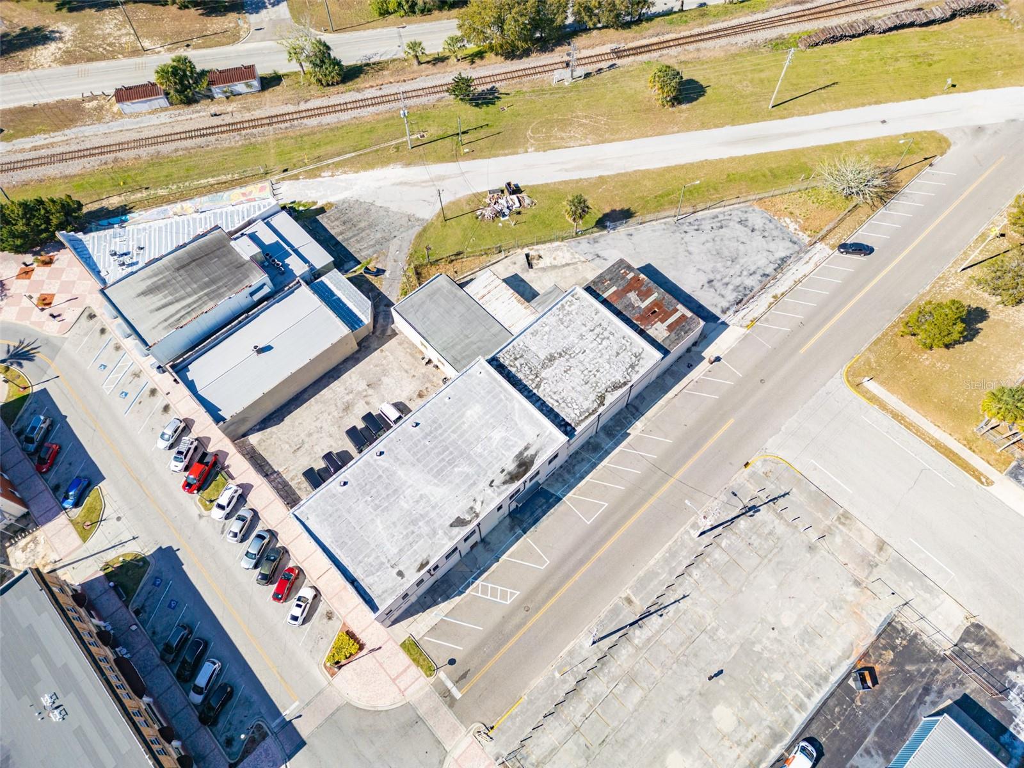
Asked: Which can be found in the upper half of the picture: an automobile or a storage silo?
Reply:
automobile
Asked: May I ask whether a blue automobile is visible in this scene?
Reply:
Yes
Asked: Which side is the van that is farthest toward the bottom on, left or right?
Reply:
right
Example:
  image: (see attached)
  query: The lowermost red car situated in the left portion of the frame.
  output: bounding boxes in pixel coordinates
[267,563,302,605]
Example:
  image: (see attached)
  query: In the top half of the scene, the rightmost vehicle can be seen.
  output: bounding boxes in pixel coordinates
[837,240,874,257]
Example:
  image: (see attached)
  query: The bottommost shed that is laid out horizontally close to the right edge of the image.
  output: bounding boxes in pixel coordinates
[885,712,1007,768]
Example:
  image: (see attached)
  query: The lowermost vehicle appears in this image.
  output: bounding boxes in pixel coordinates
[775,726,825,768]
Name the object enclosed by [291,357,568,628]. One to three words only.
building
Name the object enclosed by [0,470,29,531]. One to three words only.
building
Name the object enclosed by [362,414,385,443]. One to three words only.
vehicle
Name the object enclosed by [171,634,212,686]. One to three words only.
car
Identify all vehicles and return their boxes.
[267,563,302,605]
[302,471,324,495]
[322,454,343,479]
[362,414,385,443]
[57,471,95,513]
[153,618,196,668]
[178,449,224,497]
[152,414,191,452]
[346,428,370,456]
[171,634,212,686]
[31,439,66,475]
[837,240,874,257]
[18,413,54,453]
[775,726,825,768]
[165,433,203,474]
[221,504,257,547]
[283,582,321,630]
[184,656,226,709]
[251,542,290,588]
[237,527,274,572]
[194,676,237,731]
[207,481,246,522]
